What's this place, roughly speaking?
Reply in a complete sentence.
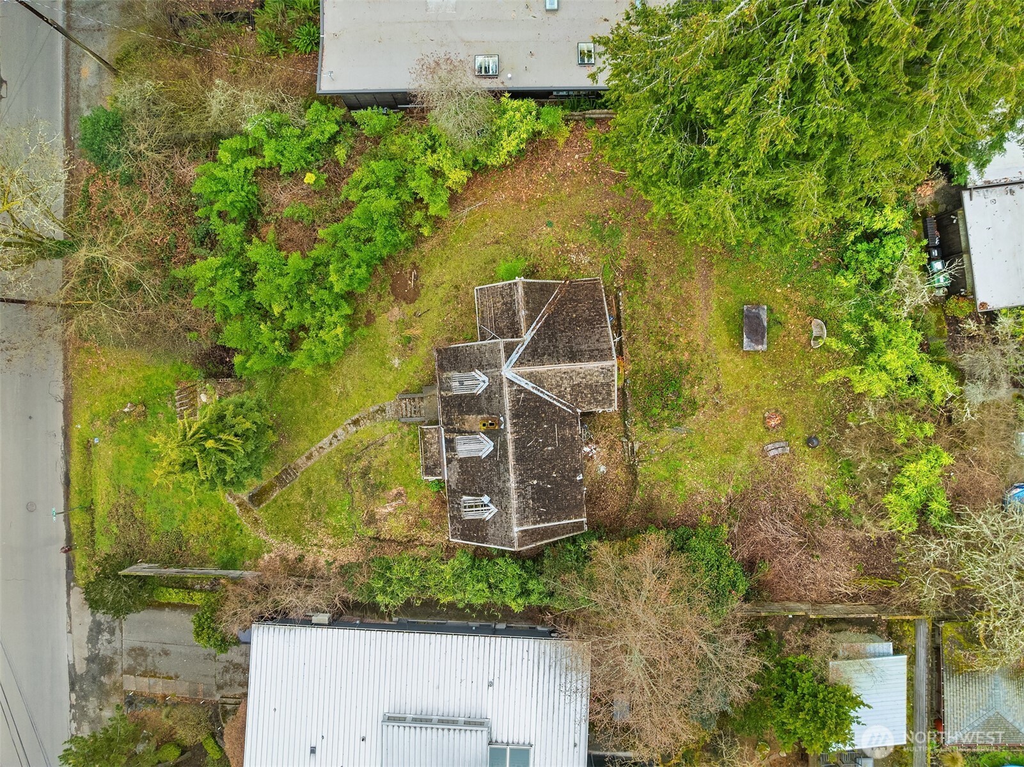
This looks like a residential area.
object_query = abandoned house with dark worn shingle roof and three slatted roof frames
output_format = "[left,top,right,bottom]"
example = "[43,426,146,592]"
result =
[419,277,619,551]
